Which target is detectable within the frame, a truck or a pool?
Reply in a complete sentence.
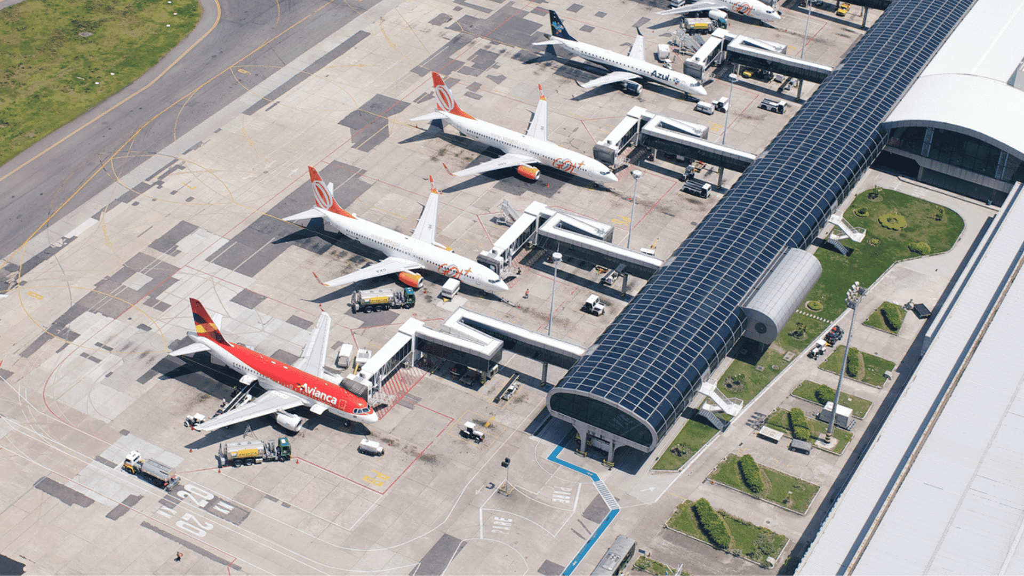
I can see a truck in this picture.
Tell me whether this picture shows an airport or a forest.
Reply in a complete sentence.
The picture captures an airport.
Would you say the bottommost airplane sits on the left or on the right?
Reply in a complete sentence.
You can find the bottommost airplane on the left side of the picture.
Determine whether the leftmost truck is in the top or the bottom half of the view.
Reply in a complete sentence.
You can find the leftmost truck in the bottom half.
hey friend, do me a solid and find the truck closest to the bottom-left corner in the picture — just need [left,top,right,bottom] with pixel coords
[120,446,184,487]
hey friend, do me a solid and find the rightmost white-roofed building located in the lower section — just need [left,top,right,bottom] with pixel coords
[793,178,1024,576]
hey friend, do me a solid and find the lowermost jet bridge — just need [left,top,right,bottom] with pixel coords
[346,307,587,422]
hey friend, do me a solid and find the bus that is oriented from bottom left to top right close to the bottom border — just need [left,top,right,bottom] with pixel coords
[588,530,639,576]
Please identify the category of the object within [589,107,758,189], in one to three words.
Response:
jet bridge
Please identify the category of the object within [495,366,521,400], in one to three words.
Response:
work vehicle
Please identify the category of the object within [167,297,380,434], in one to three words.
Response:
airplane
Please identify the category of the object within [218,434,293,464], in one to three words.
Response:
truck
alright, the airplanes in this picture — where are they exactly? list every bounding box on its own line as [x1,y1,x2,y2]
[167,297,380,434]
[647,0,780,24]
[410,72,614,188]
[530,10,709,102]
[281,166,506,296]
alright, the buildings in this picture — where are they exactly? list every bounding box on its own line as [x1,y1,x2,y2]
[793,178,1024,576]
[545,0,982,469]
